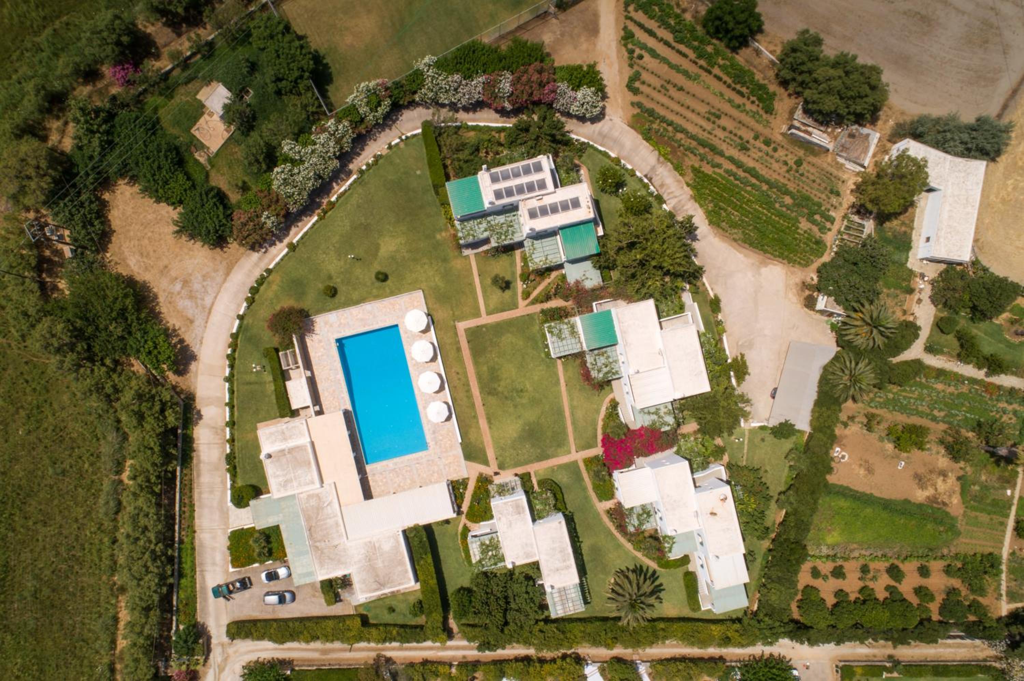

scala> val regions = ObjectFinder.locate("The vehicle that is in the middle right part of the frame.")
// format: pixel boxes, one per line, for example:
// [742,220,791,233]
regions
[765,387,778,399]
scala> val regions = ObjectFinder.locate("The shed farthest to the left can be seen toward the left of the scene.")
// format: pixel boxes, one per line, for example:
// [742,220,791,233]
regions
[196,81,234,120]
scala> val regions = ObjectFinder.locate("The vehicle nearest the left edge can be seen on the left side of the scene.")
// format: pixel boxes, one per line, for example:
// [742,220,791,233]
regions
[211,575,254,602]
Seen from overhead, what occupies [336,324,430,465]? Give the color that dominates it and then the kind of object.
blue swimming pool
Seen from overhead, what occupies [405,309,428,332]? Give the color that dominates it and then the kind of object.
white umbrella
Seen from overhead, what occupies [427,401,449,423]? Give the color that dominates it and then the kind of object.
white umbrella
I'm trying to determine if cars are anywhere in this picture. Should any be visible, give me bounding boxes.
[264,589,297,605]
[786,665,801,681]
[765,387,778,399]
[261,565,292,582]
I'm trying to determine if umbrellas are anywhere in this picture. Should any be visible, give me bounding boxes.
[405,309,428,332]
[418,371,441,394]
[411,340,433,362]
[427,401,449,423]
